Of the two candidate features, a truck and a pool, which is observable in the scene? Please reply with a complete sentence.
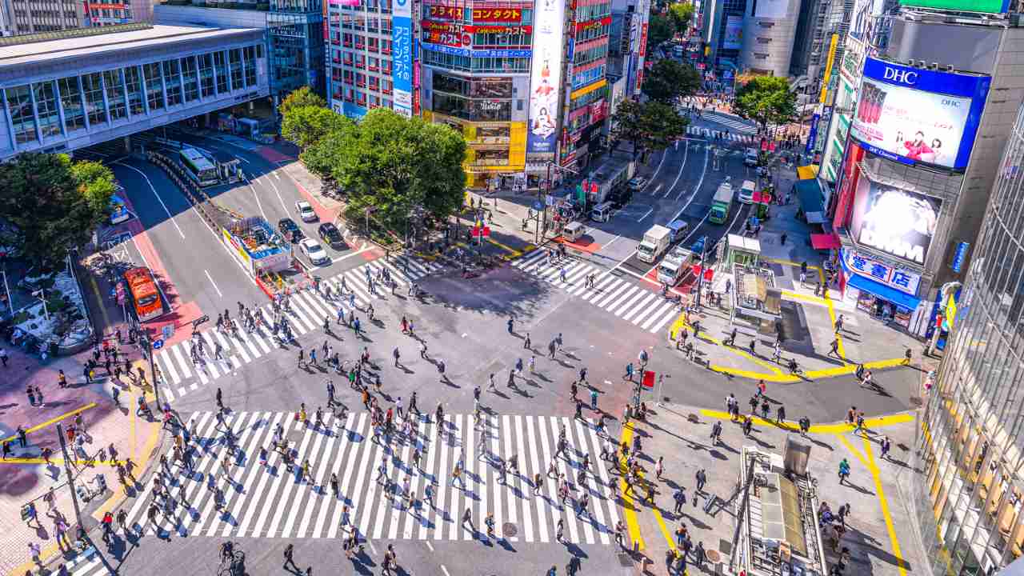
Of the two, only a truck appears.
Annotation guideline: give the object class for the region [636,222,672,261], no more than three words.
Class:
truck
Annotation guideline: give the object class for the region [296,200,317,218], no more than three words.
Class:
car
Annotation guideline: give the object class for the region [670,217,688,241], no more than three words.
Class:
vehicle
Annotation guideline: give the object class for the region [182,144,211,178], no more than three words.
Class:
bus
